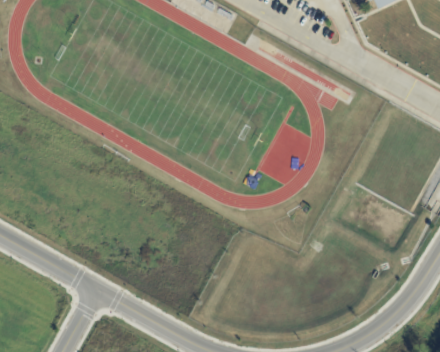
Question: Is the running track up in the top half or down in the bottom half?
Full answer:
Seen from above, the running track lies in the top half of the view.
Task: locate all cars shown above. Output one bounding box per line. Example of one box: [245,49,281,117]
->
[318,12,324,21]
[276,2,284,12]
[272,0,279,9]
[326,30,334,39]
[301,2,308,11]
[296,0,304,8]
[305,5,312,15]
[312,23,320,32]
[322,26,329,36]
[281,5,288,14]
[314,10,320,20]
[300,16,306,25]
[309,8,316,17]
